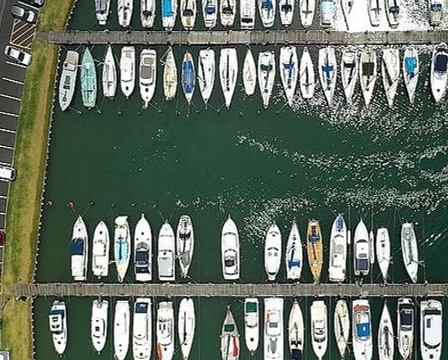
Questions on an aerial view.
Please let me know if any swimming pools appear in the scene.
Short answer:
No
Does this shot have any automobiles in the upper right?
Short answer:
No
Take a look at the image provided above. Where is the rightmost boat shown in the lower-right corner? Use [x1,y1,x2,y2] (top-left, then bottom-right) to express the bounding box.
[419,298,442,360]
